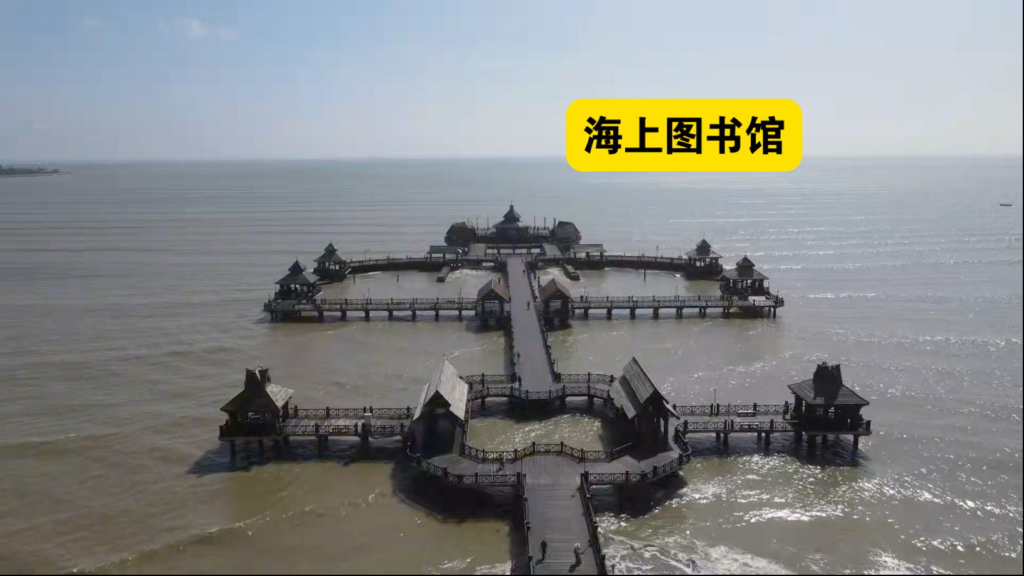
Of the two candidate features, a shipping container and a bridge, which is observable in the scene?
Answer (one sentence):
I can see a bridge in this picture.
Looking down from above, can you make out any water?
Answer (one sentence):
Yes, there's water in this view.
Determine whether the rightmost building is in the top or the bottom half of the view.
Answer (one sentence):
The bottom half of the photo is where the rightmost building is.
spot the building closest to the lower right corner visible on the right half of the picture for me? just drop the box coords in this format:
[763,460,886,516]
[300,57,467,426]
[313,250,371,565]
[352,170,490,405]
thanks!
[775,355,871,451]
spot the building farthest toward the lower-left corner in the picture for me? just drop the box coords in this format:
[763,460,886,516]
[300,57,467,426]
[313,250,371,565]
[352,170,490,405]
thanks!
[211,361,302,456]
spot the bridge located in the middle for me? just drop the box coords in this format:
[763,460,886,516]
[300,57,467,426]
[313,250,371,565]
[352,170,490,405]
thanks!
[506,261,554,383]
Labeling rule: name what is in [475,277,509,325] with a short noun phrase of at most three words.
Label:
shed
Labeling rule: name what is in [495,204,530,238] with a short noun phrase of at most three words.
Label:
building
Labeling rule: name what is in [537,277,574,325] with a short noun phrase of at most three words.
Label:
shed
